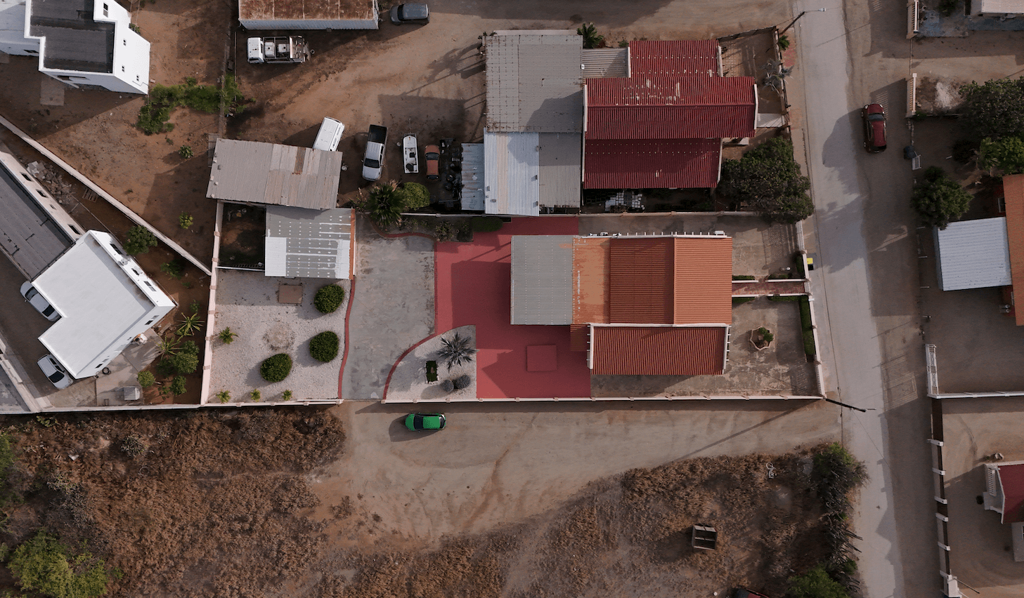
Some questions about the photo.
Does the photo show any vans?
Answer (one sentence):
Yes, there is a van in the image.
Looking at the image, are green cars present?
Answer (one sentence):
Yes, the frame does contain a green car.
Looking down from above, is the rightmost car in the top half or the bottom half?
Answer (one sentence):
Seen from above, the rightmost car lies in the top half of the view.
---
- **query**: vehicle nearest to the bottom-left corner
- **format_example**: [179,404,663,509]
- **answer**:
[32,352,74,392]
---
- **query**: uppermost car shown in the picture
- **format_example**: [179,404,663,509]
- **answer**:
[390,1,431,26]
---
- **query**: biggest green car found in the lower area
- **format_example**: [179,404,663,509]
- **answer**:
[406,412,447,433]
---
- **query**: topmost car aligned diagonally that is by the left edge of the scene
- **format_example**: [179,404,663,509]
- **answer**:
[18,281,62,327]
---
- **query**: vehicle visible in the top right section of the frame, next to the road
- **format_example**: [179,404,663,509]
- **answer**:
[860,104,887,153]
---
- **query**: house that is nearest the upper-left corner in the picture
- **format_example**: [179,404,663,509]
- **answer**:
[25,0,150,93]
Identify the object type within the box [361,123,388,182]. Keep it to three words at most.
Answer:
truck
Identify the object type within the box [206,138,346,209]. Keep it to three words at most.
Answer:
shed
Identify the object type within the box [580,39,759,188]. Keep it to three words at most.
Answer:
house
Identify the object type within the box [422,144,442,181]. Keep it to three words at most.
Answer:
car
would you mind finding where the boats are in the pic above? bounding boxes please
[402,134,418,174]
